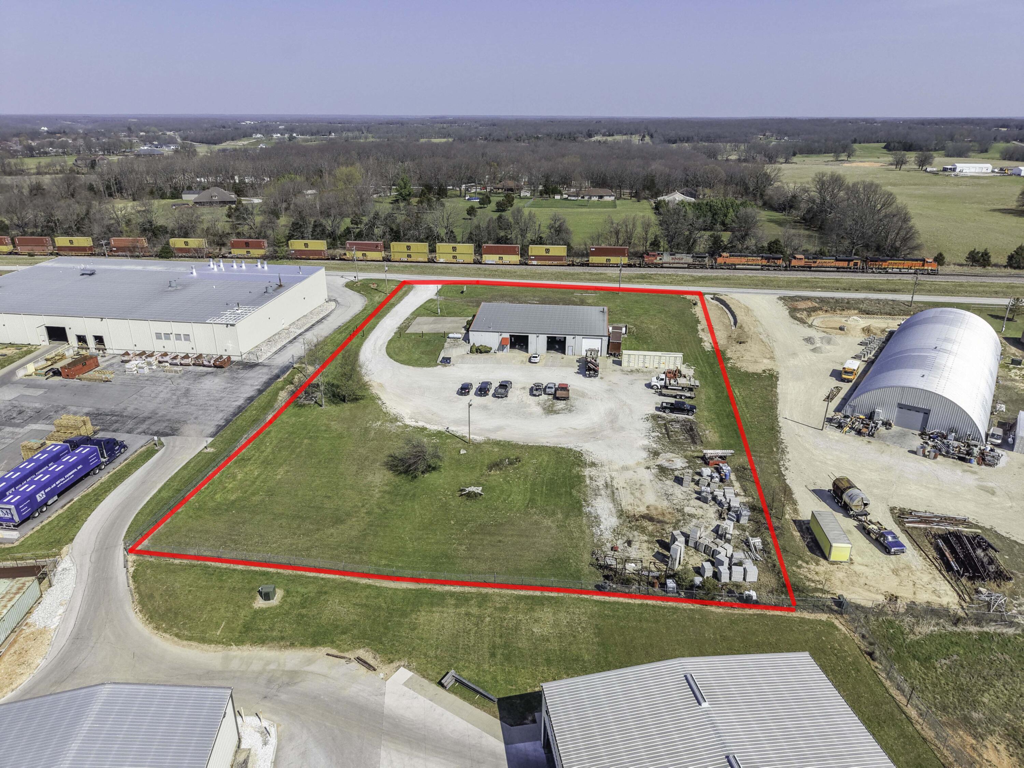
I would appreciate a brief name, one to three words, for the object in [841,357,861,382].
bus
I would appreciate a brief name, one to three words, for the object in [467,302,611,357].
building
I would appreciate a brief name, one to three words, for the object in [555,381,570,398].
vehicle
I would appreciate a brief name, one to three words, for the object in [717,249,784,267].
rail car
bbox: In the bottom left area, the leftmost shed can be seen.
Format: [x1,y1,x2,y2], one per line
[0,573,44,650]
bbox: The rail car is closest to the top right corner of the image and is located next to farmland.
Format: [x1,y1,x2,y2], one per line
[868,253,940,270]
